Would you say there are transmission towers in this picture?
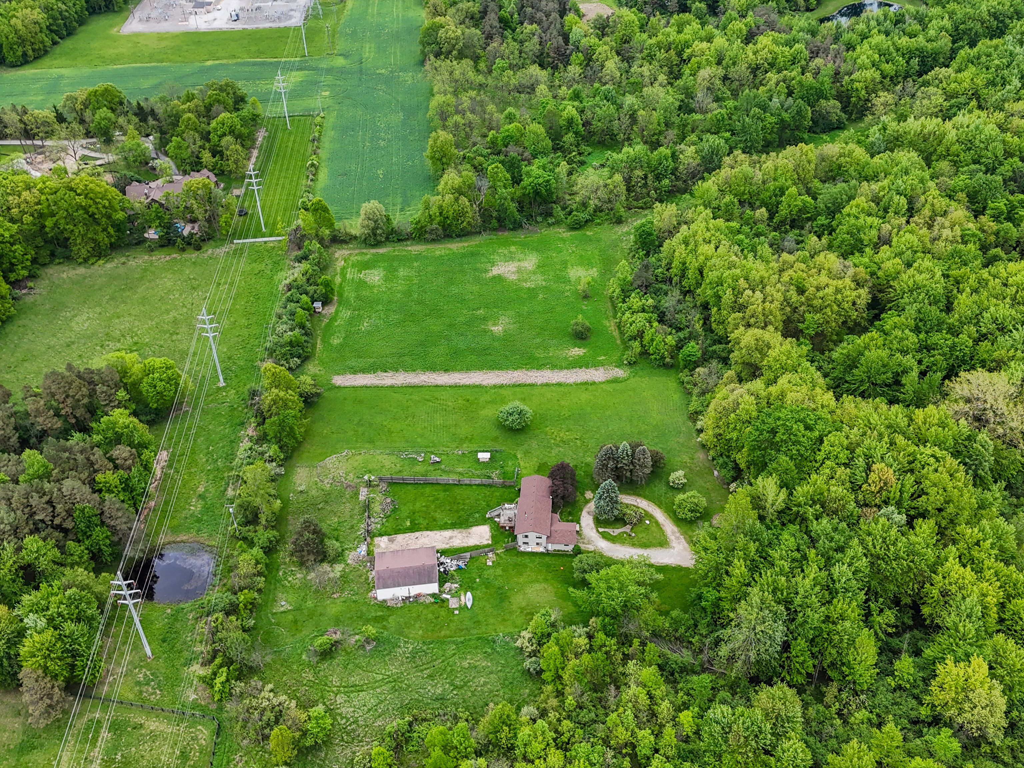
Yes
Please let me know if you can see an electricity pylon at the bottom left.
Yes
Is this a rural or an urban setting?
rural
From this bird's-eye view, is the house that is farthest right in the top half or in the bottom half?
bottom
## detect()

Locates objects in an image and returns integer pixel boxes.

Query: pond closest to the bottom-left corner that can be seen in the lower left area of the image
[133,543,216,603]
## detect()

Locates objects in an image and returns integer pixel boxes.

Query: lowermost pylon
[110,570,154,661]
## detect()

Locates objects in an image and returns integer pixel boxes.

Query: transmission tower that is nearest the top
[295,4,308,56]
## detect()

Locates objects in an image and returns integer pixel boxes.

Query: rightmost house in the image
[514,475,576,553]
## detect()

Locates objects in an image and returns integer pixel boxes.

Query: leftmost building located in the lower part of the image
[374,545,439,599]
